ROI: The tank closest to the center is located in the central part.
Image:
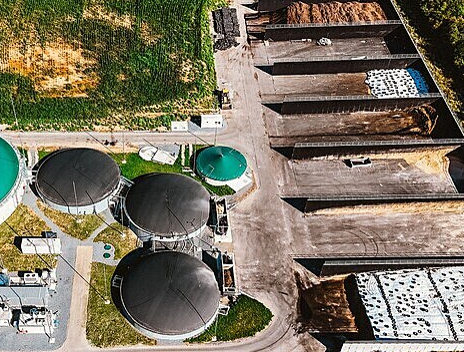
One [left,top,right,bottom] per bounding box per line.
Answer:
[197,144,248,186]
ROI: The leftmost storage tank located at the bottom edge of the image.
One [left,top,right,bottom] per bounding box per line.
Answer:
[120,250,220,340]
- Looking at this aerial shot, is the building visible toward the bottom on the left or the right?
left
